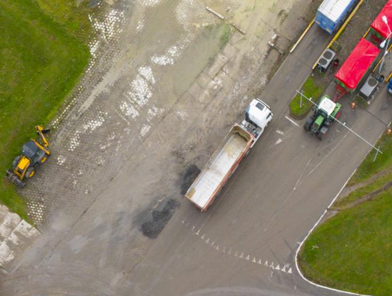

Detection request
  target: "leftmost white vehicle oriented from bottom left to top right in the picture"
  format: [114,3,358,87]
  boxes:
[185,101,275,214]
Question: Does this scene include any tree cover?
No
